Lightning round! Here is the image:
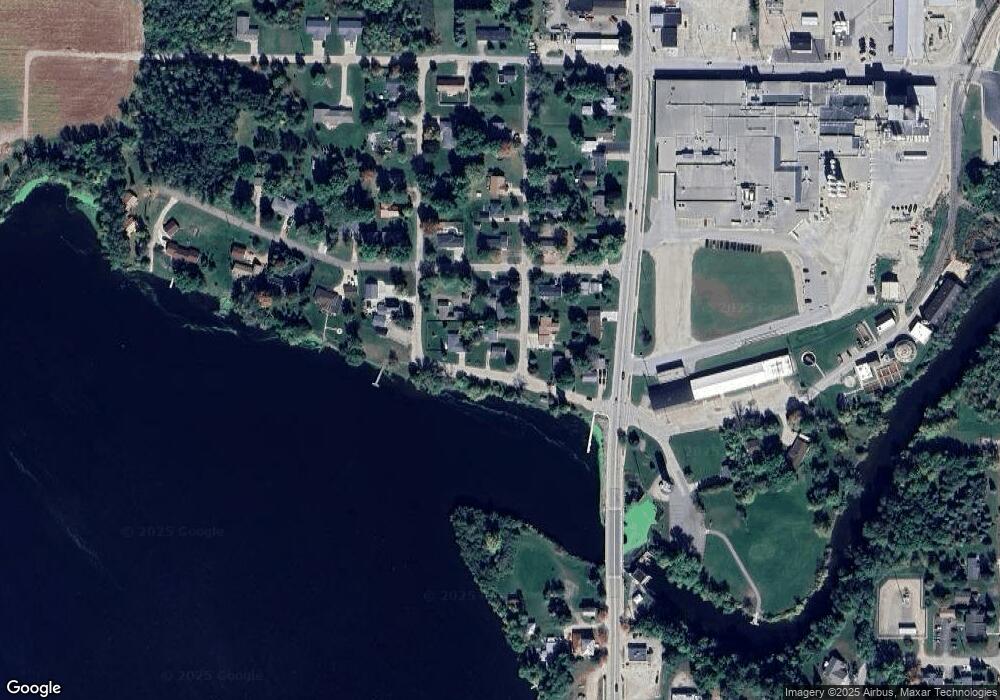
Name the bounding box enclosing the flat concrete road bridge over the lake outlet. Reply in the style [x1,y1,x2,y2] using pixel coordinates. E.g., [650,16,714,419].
[605,509,624,578]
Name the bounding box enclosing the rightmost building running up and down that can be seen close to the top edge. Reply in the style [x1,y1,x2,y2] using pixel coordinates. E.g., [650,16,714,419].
[895,0,923,58]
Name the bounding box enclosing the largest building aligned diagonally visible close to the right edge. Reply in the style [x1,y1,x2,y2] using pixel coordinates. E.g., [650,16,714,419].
[921,275,966,324]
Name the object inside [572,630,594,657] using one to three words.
house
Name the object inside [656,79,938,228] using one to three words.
building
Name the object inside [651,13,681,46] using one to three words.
building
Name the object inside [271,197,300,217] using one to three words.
house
